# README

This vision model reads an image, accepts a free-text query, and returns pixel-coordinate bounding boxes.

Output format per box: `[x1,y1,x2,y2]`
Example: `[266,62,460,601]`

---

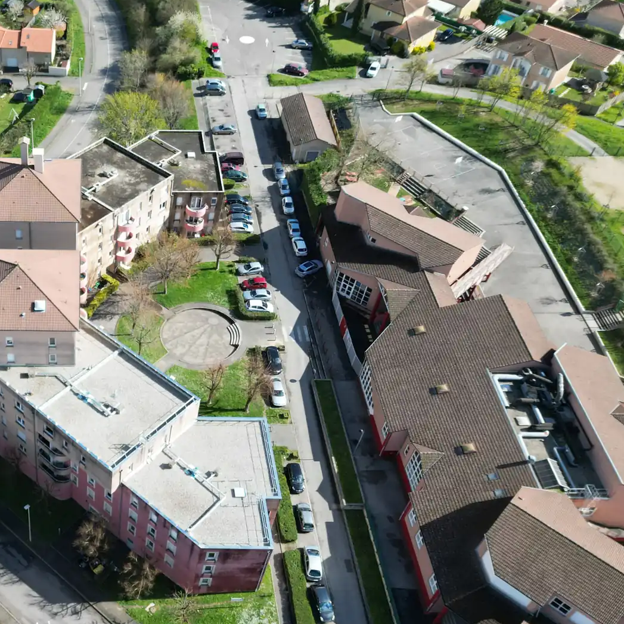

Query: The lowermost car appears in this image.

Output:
[311,583,335,624]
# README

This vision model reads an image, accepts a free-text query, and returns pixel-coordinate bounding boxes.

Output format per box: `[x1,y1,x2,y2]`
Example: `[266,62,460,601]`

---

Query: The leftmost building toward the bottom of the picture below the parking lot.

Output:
[0,249,284,593]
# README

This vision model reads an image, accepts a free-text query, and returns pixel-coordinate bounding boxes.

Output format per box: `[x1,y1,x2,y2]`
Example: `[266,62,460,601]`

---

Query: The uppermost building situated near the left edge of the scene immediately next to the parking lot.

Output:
[0,129,224,305]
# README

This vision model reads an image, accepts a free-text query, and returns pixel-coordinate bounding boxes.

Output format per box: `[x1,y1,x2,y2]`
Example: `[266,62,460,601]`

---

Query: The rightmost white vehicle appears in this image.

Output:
[366,64,380,77]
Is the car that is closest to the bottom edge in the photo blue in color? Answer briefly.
Yes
